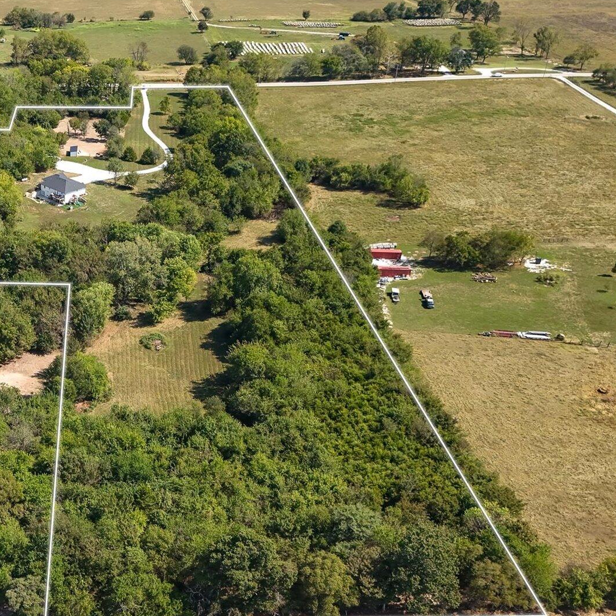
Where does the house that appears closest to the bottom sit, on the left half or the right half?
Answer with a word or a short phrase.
left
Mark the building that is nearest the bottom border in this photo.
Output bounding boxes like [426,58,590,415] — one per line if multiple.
[37,176,90,207]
